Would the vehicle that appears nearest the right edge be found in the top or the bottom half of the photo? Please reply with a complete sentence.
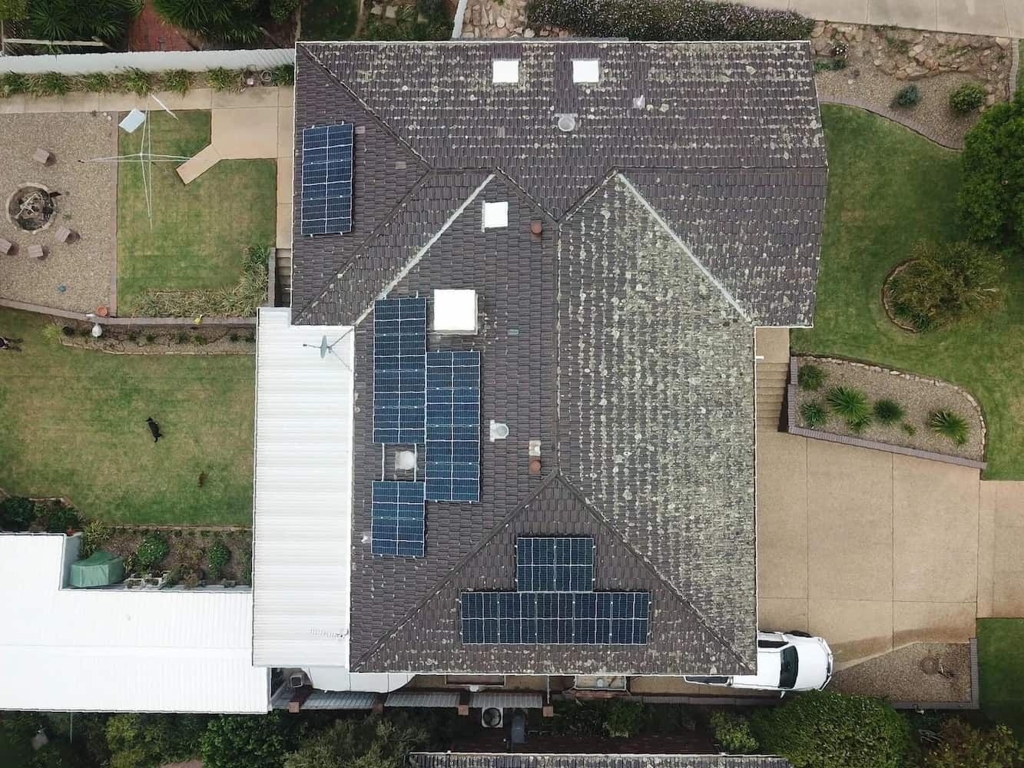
The vehicle that appears nearest the right edge sits in the bottom half of the picture.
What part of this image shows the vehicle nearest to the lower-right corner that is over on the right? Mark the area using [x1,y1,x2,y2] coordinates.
[673,627,832,698]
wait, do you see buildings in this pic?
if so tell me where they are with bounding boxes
[0,532,279,715]
[289,36,828,678]
[409,739,792,768]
